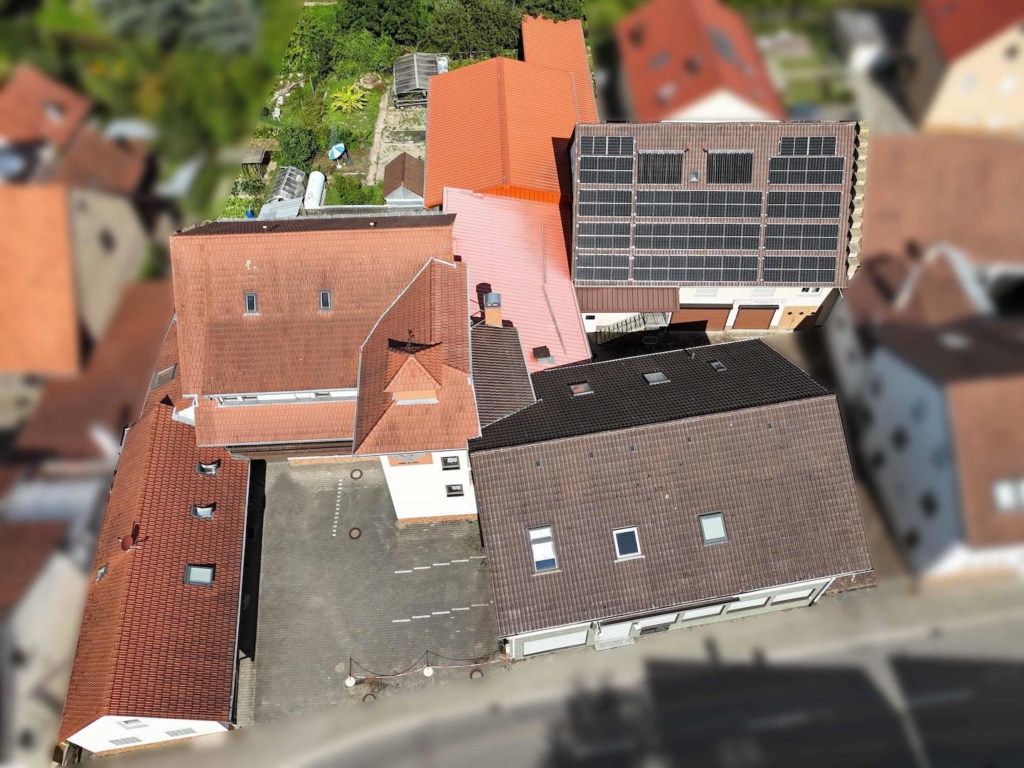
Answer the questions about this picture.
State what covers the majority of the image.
buildings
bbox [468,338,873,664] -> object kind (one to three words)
house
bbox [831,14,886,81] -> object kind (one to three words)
building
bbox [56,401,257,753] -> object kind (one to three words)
house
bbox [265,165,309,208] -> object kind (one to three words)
greenhouse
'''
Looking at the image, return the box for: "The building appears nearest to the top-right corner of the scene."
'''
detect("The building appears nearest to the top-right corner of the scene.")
[894,0,1024,106]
